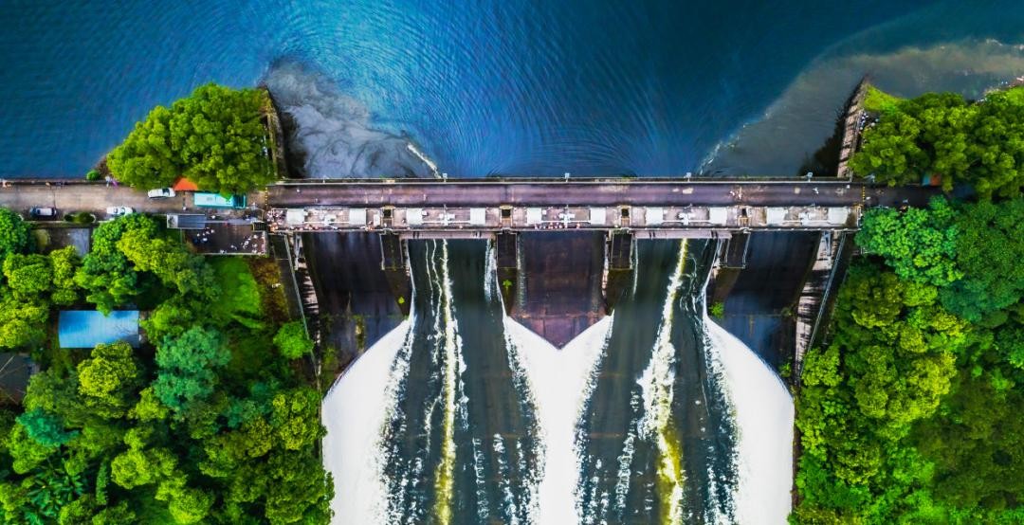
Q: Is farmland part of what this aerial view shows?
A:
No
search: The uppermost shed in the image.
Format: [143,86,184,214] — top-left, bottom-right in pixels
[162,214,207,229]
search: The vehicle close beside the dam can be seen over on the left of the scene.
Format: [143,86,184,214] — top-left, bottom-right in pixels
[187,192,244,208]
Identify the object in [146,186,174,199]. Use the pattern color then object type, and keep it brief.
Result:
white vehicle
